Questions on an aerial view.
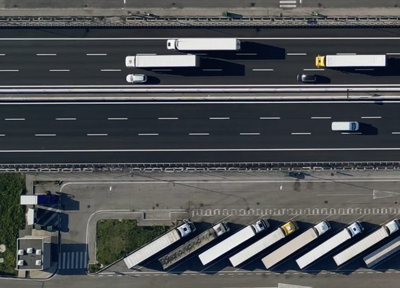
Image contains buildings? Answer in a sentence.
Yes, there is a building in the image.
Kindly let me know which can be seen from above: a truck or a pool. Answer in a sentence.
Of the two, only a truck appears.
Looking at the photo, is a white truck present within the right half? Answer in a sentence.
Yes, looking within the right half, one can make out a white truck.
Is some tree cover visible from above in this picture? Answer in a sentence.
No, tree cover can't be seen anywhere here.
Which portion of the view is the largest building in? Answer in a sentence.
Look in the bottom left portion of the view to spot the largest building.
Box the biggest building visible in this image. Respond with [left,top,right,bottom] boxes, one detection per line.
[16,237,50,270]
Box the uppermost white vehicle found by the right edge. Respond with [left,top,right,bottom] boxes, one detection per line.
[316,54,389,67]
